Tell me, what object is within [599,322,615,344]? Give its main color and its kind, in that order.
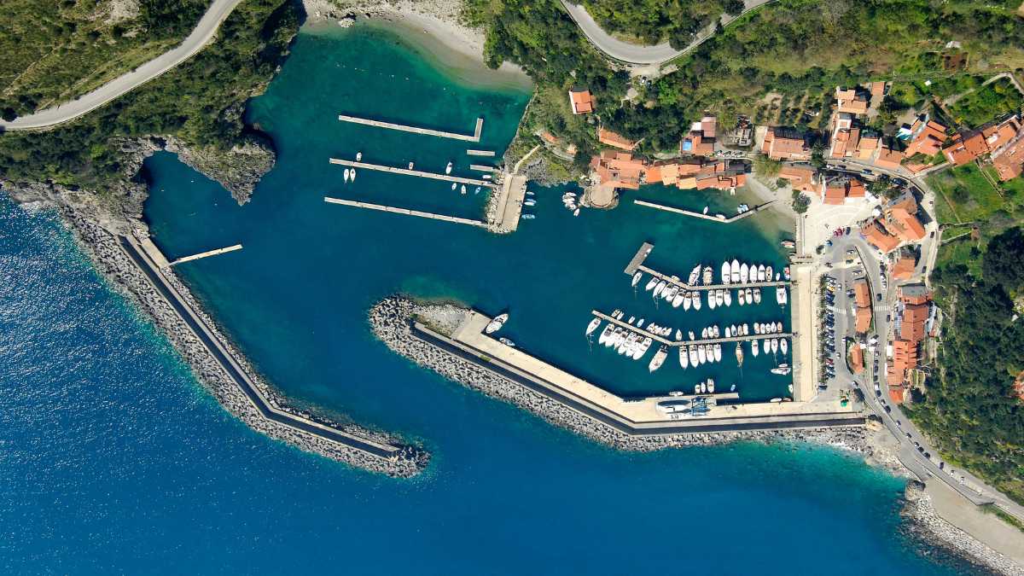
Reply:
white boat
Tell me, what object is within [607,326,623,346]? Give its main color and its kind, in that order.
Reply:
white boat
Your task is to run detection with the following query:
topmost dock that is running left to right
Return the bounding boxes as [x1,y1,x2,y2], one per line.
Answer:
[339,115,482,142]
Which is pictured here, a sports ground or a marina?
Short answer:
marina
